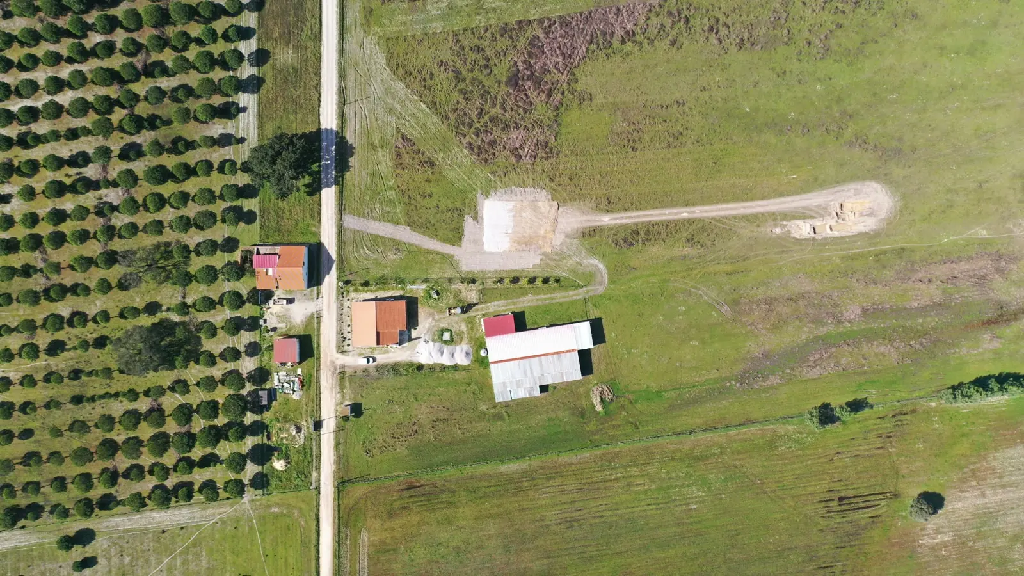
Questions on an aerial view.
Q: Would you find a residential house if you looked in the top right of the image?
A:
No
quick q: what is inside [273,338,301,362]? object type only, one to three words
shed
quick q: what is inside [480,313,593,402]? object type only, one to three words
barn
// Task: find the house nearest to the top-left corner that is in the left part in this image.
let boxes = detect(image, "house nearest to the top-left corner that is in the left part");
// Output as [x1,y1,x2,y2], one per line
[253,246,308,289]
